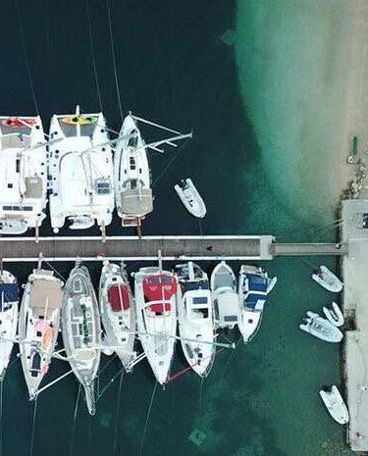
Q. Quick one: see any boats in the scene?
Yes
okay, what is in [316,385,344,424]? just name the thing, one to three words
boat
